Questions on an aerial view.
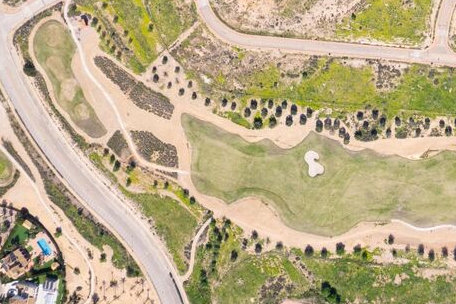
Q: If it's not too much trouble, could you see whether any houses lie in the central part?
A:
No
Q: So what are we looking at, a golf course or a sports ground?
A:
golf course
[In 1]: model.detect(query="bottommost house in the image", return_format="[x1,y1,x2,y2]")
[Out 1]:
[7,280,41,304]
